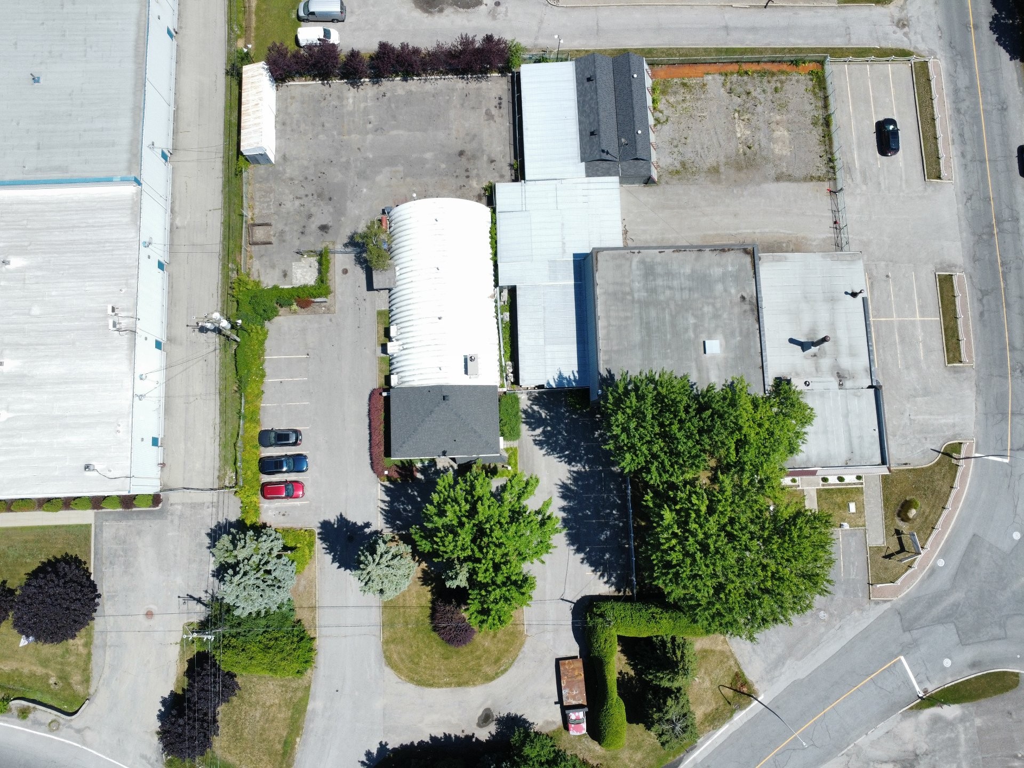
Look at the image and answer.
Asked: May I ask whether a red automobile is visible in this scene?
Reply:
Yes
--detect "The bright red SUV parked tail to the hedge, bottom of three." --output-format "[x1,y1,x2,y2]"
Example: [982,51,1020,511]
[260,479,307,500]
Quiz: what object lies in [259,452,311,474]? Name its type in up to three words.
car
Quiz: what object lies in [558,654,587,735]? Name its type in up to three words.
truck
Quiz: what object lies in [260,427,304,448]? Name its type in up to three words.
car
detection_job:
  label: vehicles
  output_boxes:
[875,118,901,158]
[558,654,587,735]
[259,452,311,474]
[296,23,341,48]
[260,479,307,500]
[260,427,304,448]
[297,0,348,22]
